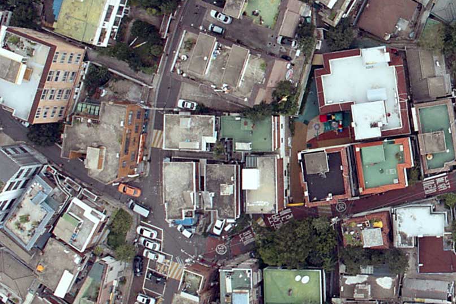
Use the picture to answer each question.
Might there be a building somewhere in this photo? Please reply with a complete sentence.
Yes, there is a building in the image.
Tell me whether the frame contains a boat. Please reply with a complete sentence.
No, the picture doesn't show any boat.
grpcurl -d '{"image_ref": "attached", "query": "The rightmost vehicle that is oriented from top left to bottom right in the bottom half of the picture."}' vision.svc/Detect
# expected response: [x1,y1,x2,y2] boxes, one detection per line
[175,226,195,240]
